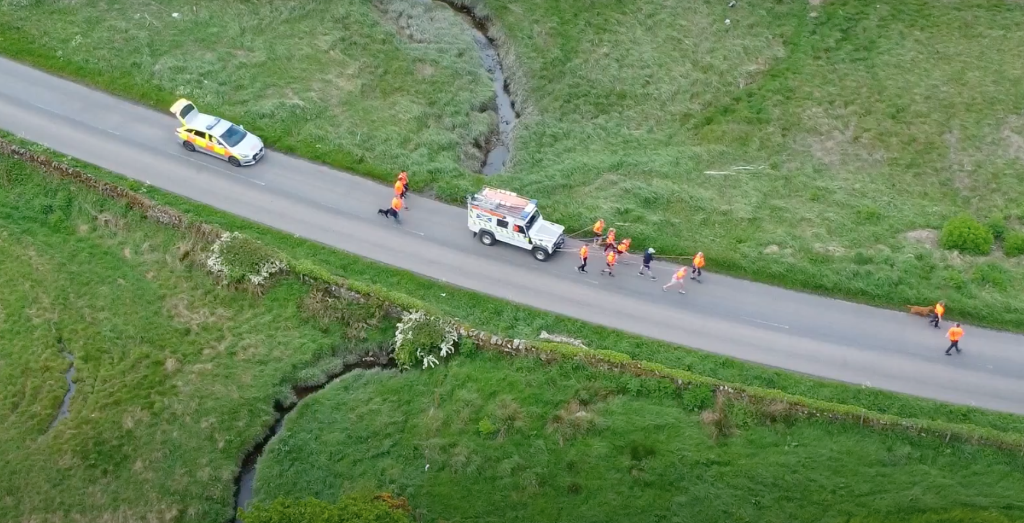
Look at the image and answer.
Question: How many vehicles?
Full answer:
I count 2 vehicles.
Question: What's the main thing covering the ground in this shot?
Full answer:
Most of the picture is covered by grass.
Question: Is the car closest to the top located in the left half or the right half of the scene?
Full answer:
The car closest to the top is on the left side of the image.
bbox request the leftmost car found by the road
[167,96,268,168]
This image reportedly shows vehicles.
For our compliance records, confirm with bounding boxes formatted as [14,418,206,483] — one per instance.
[167,96,268,168]
[469,183,569,262]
